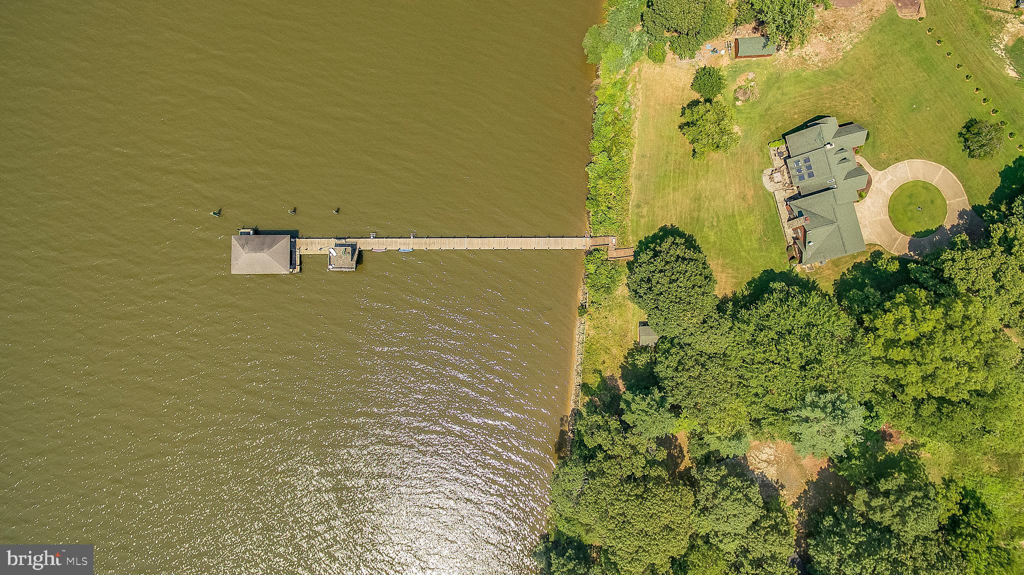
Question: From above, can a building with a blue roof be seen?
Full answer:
No, the picture doesn't show any building with a blue roof.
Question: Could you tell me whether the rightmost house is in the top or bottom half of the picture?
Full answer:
The rightmost house is in the top half of the image.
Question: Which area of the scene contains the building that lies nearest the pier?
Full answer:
You can find the building that lies nearest the pier in the left area of the picture.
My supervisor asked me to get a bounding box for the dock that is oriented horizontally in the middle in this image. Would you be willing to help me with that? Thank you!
[296,236,591,255]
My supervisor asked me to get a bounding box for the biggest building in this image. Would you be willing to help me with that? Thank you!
[780,117,869,266]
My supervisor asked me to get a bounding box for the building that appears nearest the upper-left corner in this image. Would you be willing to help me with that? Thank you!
[231,228,300,274]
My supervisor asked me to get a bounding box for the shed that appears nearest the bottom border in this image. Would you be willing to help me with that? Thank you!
[637,326,661,345]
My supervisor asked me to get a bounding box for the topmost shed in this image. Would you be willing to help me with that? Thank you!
[735,36,776,59]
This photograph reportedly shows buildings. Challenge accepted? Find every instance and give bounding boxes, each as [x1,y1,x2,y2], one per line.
[735,36,776,59]
[780,117,869,266]
[231,228,300,274]
[637,326,661,345]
